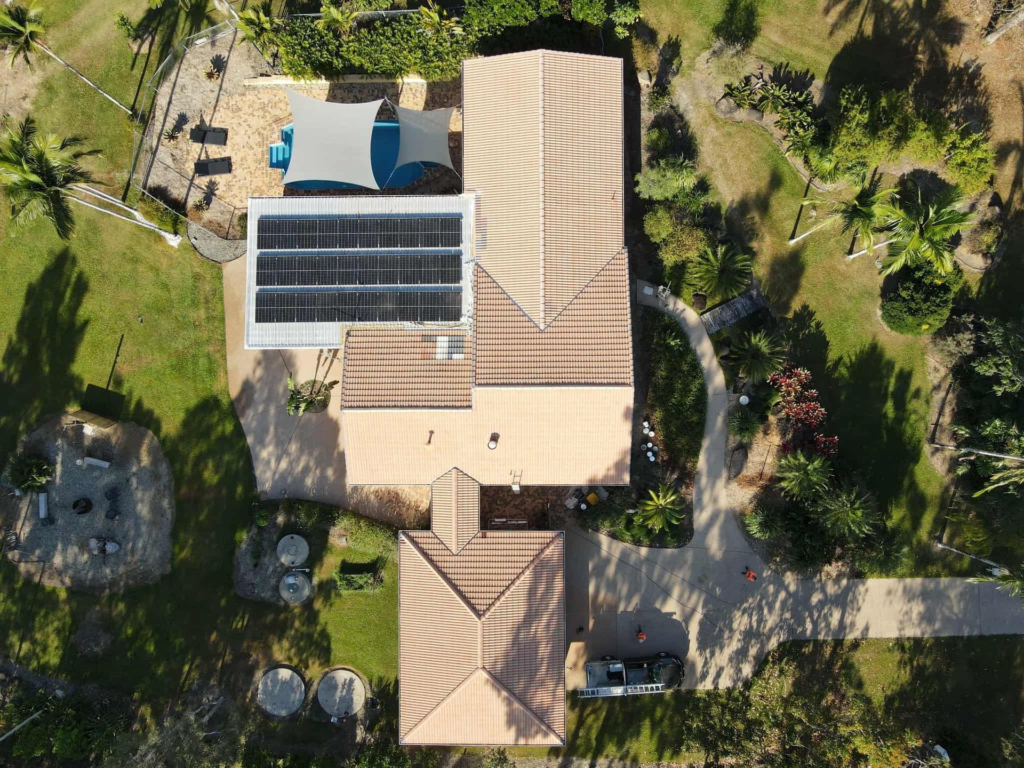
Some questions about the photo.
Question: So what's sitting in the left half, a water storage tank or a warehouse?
water storage tank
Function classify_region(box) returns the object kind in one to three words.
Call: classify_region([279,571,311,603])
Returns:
water tank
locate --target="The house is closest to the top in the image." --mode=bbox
[339,47,637,558]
